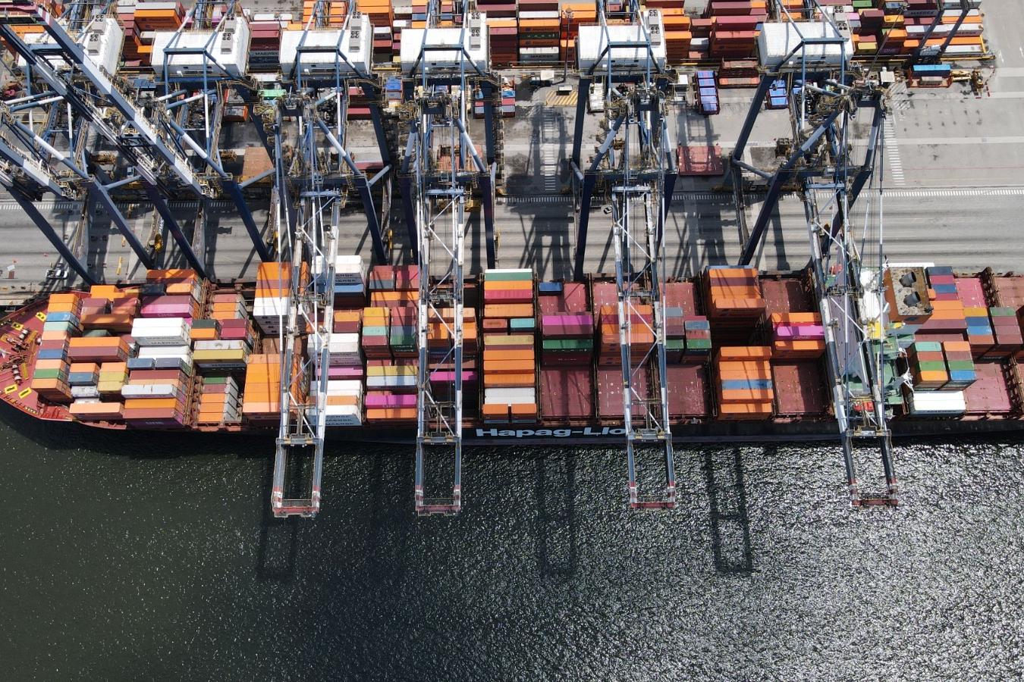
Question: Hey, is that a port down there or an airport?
port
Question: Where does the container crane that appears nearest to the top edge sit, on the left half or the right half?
right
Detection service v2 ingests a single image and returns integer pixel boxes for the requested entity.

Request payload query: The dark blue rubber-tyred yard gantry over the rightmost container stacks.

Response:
[909,0,985,66]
